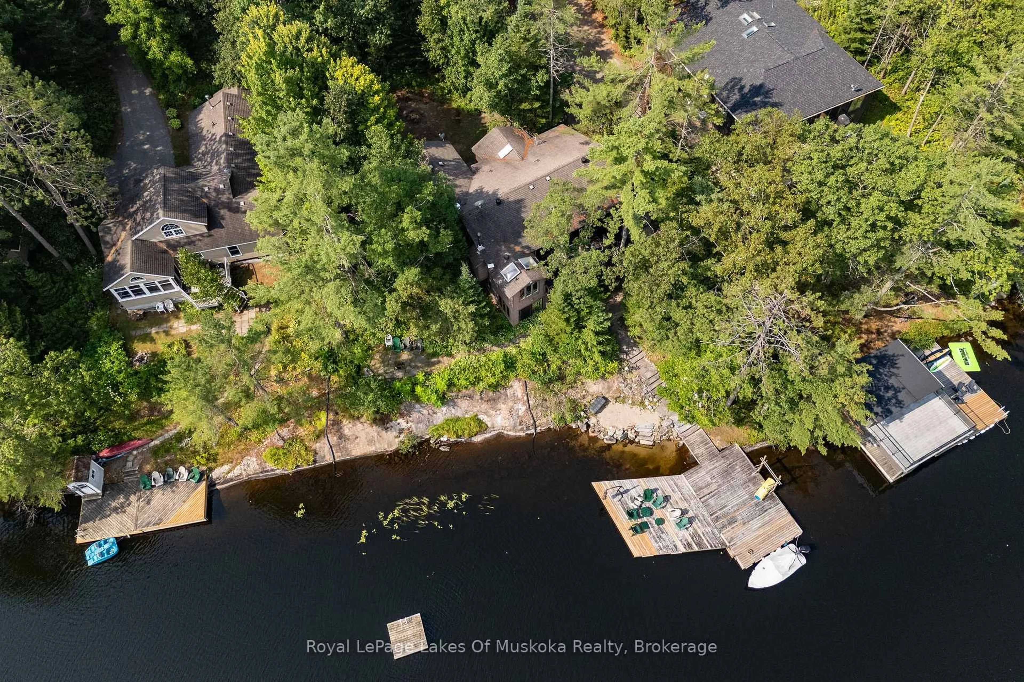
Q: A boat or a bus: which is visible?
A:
boat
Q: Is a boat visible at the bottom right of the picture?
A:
Yes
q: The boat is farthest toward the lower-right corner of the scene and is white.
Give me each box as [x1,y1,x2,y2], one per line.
[749,539,809,587]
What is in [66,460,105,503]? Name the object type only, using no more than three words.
shed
